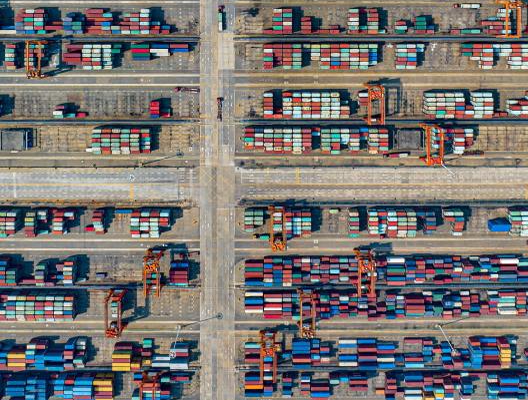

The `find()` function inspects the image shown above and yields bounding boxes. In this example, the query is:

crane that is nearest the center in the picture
[267,205,287,259]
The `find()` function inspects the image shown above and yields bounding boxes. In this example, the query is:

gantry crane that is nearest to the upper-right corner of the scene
[490,0,519,42]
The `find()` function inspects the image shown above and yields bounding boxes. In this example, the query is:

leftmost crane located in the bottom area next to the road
[107,285,133,342]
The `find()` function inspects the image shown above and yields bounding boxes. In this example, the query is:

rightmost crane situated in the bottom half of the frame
[351,244,374,298]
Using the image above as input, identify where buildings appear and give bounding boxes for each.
[0,130,31,153]
[392,130,426,152]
